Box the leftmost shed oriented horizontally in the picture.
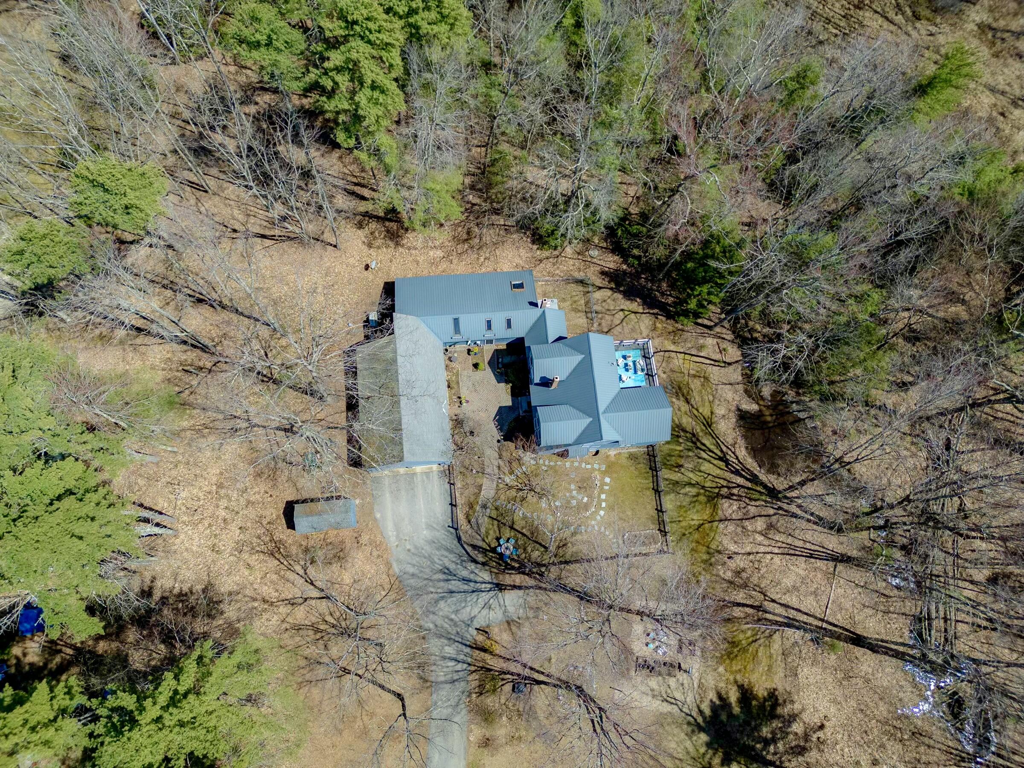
[293,498,359,534]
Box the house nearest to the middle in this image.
[357,270,672,471]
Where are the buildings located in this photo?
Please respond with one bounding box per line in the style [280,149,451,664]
[357,270,672,471]
[293,498,359,534]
